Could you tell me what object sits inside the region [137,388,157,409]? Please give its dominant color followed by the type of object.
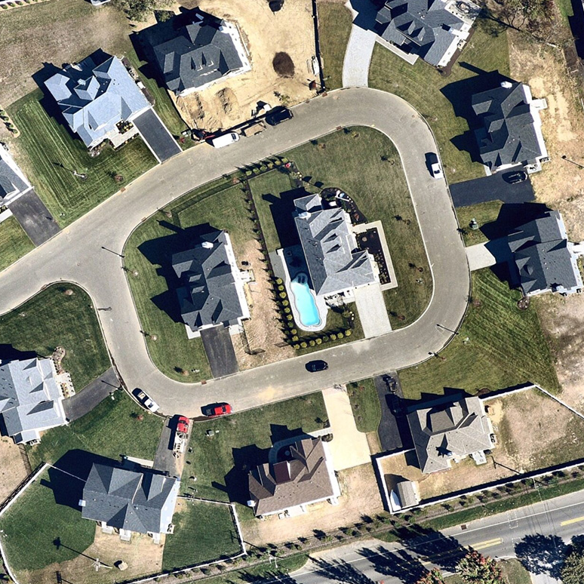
white vehicle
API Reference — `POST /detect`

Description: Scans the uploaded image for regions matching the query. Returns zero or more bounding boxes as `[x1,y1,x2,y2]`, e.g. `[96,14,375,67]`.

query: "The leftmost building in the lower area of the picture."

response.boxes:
[0,349,68,445]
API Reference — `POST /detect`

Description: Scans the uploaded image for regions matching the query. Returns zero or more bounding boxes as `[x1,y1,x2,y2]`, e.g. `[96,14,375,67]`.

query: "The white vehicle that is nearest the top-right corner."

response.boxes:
[428,153,442,177]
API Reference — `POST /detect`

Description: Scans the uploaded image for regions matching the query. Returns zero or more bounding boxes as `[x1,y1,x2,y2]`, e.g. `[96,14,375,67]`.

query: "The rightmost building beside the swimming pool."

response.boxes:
[294,195,379,296]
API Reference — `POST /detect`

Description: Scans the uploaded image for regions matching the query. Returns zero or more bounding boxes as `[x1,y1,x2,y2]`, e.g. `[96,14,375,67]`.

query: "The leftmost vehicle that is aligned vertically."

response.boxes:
[172,418,189,454]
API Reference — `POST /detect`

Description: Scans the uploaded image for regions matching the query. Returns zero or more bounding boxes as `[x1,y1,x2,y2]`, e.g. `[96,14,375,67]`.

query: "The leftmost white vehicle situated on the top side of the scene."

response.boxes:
[212,132,237,146]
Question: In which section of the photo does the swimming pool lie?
center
